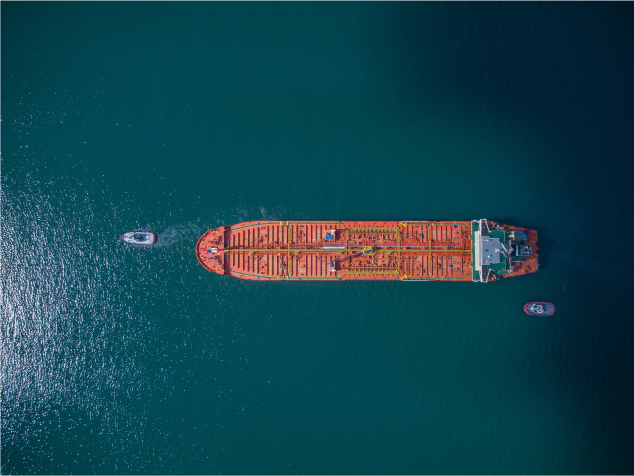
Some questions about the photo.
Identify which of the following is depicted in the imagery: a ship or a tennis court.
ship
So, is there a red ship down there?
Yes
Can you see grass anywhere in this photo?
No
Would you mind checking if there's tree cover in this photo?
No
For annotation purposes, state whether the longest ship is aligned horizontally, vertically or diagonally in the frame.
horizontally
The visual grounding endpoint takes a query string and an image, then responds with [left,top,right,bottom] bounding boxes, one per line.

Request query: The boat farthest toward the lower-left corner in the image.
[119,231,156,246]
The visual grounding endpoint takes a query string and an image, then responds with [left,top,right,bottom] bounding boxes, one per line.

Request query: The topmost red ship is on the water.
[196,219,540,282]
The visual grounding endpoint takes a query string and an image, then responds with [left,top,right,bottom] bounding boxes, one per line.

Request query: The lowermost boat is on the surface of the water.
[524,301,557,316]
